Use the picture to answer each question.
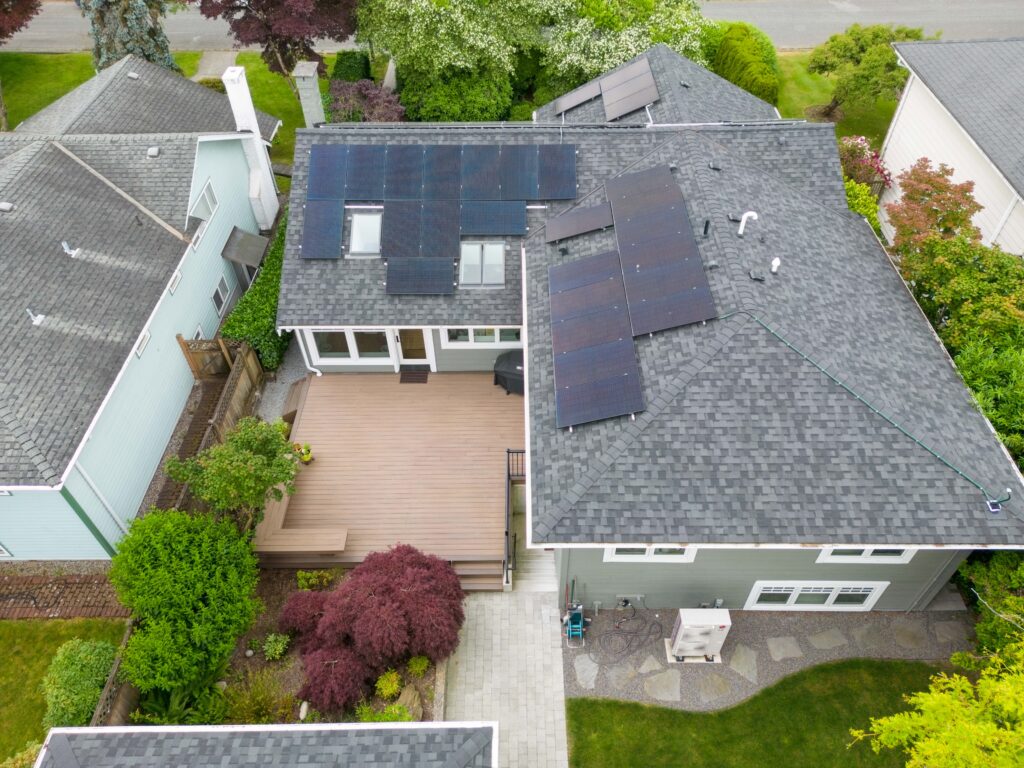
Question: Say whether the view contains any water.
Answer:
No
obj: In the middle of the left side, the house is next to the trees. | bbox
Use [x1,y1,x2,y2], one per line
[0,53,290,559]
